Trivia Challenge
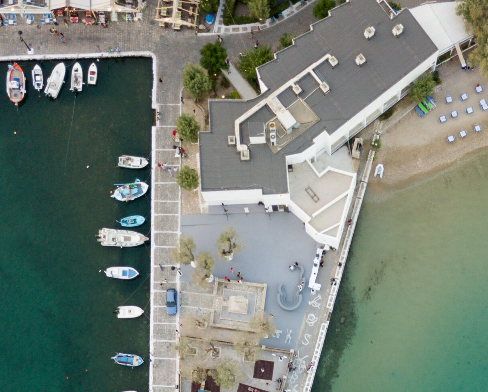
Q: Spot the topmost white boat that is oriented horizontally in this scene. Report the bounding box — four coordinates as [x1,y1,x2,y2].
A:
[117,156,150,169]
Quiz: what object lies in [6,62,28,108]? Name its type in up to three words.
boat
